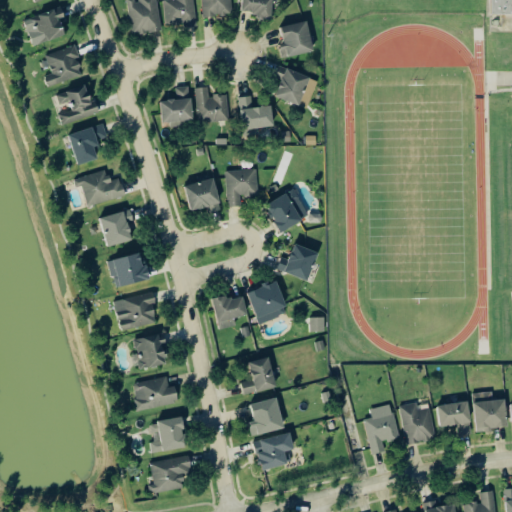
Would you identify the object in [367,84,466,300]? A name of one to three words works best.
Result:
sports field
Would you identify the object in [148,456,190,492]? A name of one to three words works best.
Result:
house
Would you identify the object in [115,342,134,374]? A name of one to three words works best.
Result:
swimming pool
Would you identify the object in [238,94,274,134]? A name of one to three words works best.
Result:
house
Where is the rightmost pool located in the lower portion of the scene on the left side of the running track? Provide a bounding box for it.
[260,316,292,340]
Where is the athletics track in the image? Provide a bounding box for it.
[344,24,490,360]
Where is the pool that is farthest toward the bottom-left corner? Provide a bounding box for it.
[132,436,145,456]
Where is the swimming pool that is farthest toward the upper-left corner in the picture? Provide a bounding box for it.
[67,180,87,211]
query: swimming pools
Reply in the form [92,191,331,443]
[67,180,87,211]
[115,342,134,374]
[132,436,145,456]
[260,316,292,340]
[295,181,319,210]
